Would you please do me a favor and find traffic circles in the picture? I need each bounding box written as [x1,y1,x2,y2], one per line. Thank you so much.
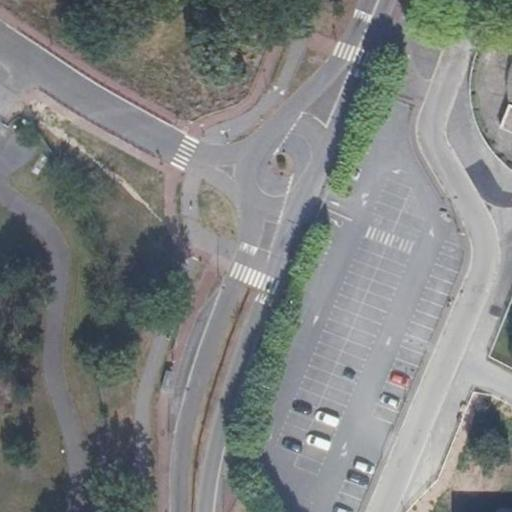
[256,130,312,196]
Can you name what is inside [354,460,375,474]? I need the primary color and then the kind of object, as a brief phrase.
white car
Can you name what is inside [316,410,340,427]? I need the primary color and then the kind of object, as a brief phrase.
white car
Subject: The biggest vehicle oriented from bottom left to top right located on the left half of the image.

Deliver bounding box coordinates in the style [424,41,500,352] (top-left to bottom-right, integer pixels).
[31,155,47,174]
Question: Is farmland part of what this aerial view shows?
No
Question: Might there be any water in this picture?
No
